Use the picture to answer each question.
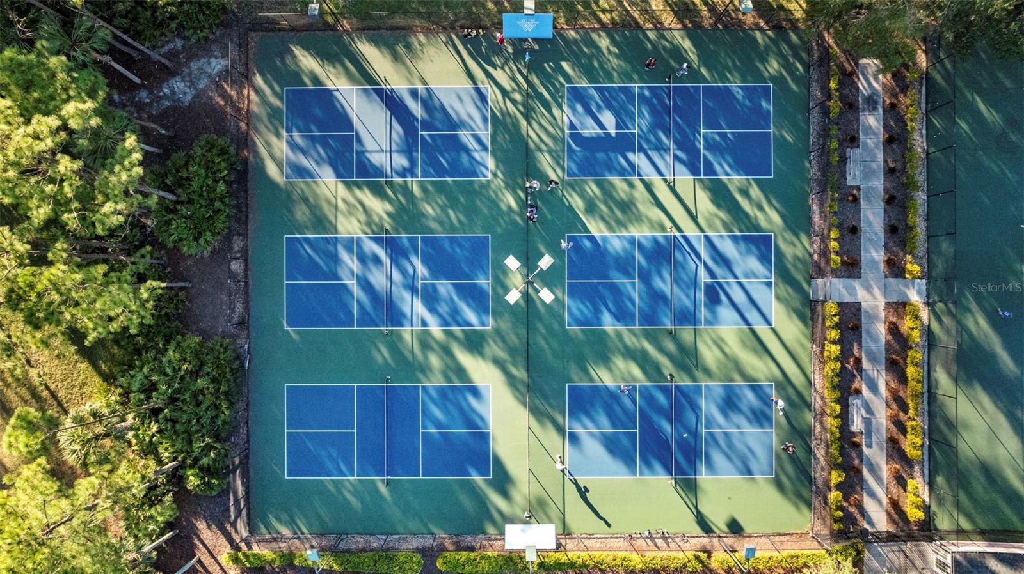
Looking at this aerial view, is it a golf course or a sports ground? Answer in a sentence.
It's a sports ground.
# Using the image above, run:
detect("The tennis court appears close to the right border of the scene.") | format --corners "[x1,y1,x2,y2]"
[928,0,1024,533]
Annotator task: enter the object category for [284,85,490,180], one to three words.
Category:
sports court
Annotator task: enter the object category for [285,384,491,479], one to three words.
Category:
sports court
